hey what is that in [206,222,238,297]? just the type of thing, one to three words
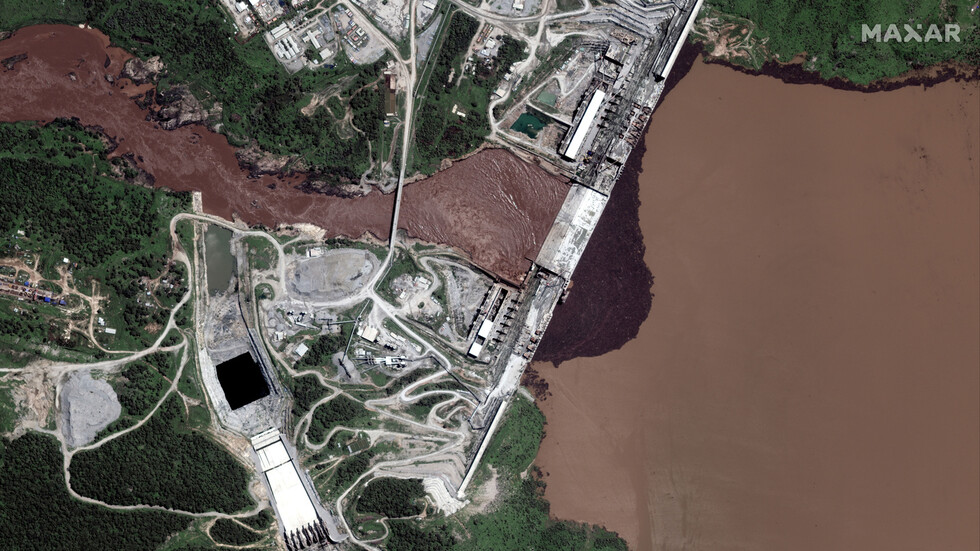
pond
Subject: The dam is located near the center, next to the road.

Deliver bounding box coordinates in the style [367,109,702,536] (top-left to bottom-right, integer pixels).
[456,0,703,499]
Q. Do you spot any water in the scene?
Yes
